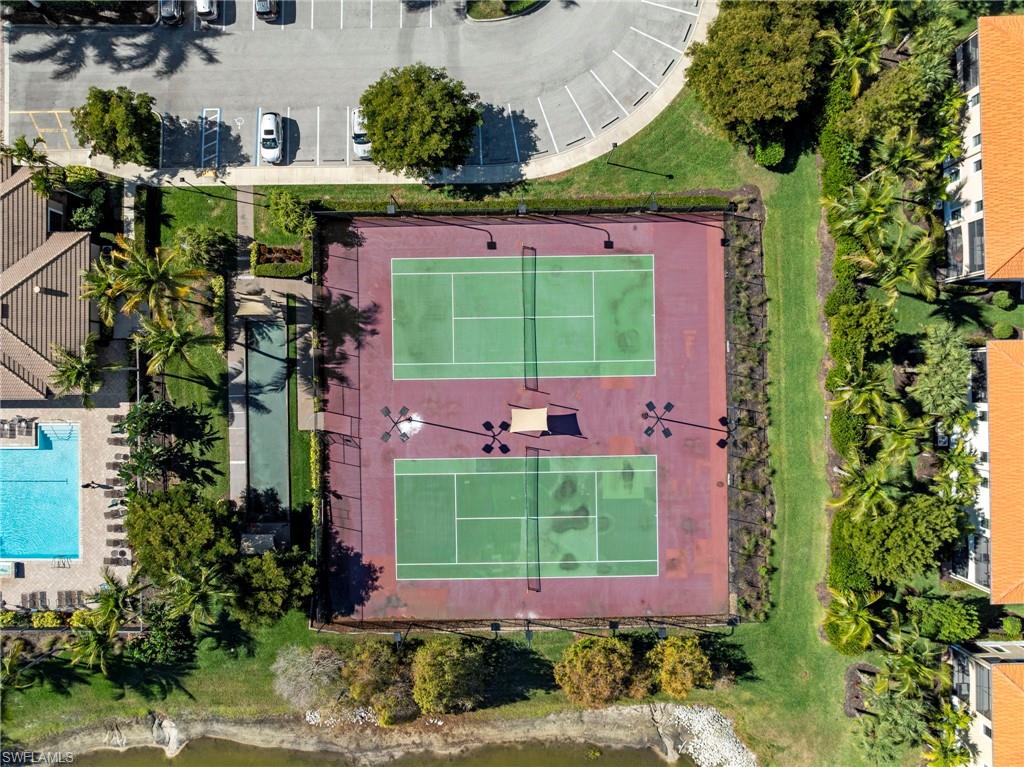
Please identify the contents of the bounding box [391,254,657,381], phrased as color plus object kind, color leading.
green tennis court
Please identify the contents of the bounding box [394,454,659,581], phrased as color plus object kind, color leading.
green tennis court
